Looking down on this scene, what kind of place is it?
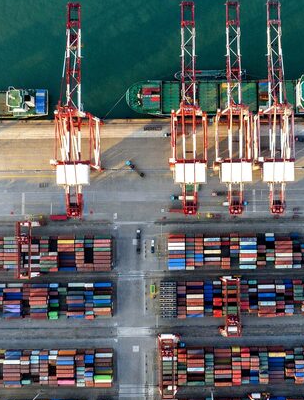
port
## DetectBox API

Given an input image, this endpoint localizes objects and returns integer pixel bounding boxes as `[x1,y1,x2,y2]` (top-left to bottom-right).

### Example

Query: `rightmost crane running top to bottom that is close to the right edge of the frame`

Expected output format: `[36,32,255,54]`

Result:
[251,0,295,214]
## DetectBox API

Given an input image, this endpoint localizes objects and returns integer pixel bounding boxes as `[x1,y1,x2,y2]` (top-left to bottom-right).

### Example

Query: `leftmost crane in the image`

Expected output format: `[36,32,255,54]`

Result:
[17,223,48,278]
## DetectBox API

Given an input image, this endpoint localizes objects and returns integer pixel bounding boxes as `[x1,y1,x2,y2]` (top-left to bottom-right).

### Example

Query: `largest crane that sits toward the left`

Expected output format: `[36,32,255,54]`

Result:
[49,2,105,216]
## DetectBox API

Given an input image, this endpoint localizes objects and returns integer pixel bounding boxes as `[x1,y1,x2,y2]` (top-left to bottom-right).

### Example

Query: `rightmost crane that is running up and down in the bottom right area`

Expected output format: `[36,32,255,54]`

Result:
[219,276,245,339]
